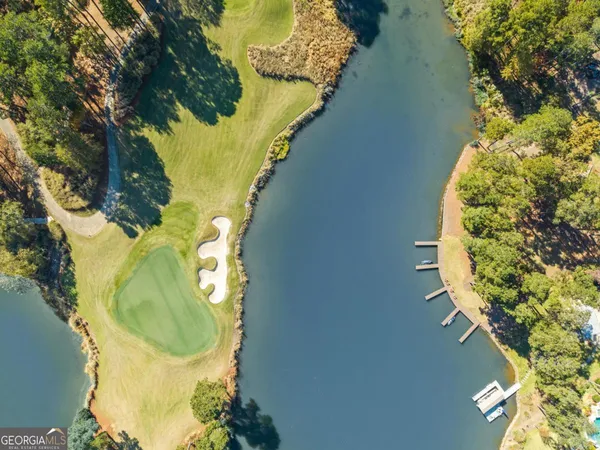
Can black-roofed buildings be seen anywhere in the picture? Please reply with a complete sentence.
No, I can't see a single black-roofed building in this photo.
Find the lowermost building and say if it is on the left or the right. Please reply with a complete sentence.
The lowermost building sits on the right side.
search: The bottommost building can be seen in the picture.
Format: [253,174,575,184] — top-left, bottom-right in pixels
[471,379,509,415]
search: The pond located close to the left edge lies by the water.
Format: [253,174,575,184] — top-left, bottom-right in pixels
[0,274,94,450]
